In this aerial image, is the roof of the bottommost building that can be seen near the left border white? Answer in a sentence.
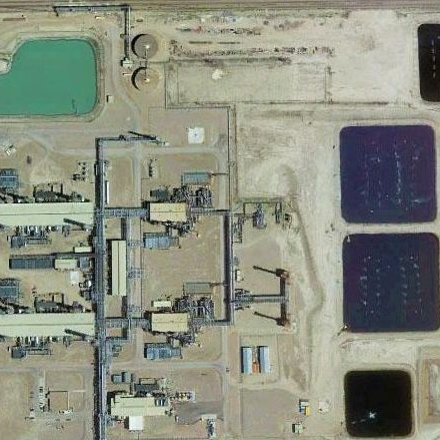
Yes, the roof of the bottommost building that can be seen near the left border is indeed white.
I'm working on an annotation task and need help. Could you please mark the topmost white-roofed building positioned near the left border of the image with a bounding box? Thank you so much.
[0,202,94,226]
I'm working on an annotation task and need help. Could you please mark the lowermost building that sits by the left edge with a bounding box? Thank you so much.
[0,314,95,337]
